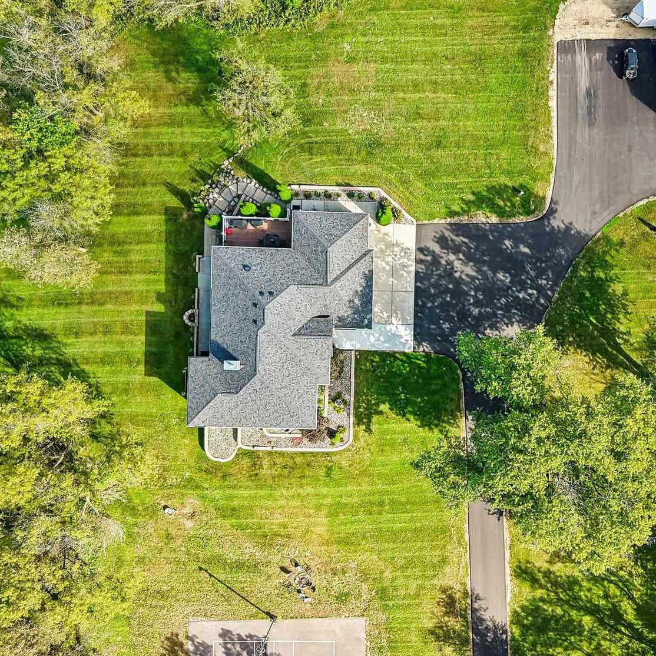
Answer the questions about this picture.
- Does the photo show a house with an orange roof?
No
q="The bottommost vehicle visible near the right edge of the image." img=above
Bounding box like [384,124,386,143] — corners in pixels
[624,46,641,76]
